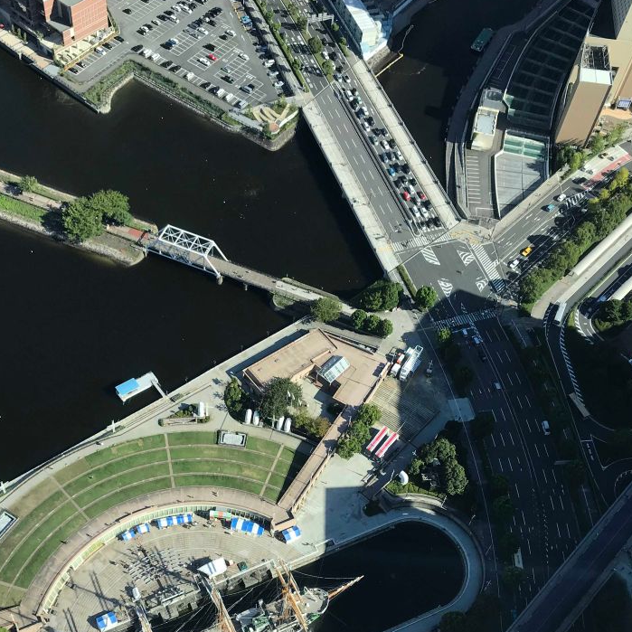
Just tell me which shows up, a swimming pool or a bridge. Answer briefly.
bridge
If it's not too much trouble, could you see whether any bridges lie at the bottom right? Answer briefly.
No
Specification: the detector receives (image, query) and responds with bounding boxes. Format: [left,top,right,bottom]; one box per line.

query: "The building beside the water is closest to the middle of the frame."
[243,328,390,414]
